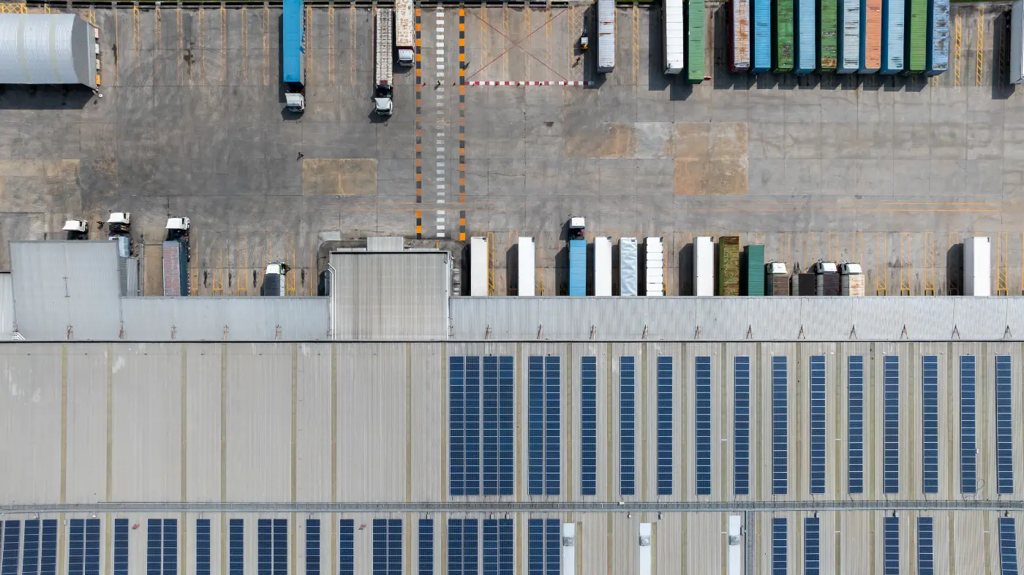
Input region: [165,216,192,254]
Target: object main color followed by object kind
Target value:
white truck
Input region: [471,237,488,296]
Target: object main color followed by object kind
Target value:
white trailer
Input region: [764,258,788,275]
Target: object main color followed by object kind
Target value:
white vehicle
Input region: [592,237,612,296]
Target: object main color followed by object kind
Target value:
white trailer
